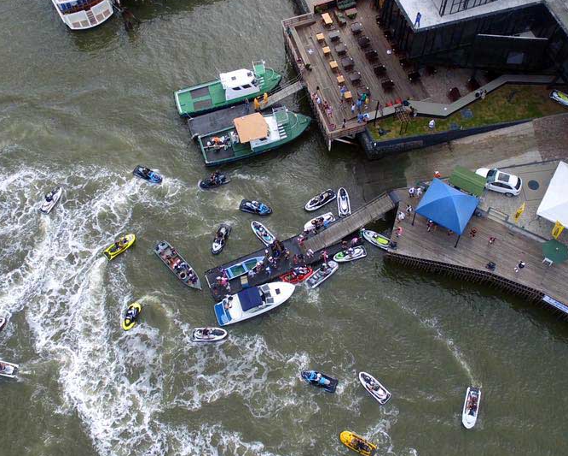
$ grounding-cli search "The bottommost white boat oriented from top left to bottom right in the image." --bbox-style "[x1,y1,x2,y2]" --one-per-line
[360,373,393,406]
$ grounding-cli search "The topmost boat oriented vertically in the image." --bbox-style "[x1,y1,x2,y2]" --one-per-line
[337,187,350,216]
